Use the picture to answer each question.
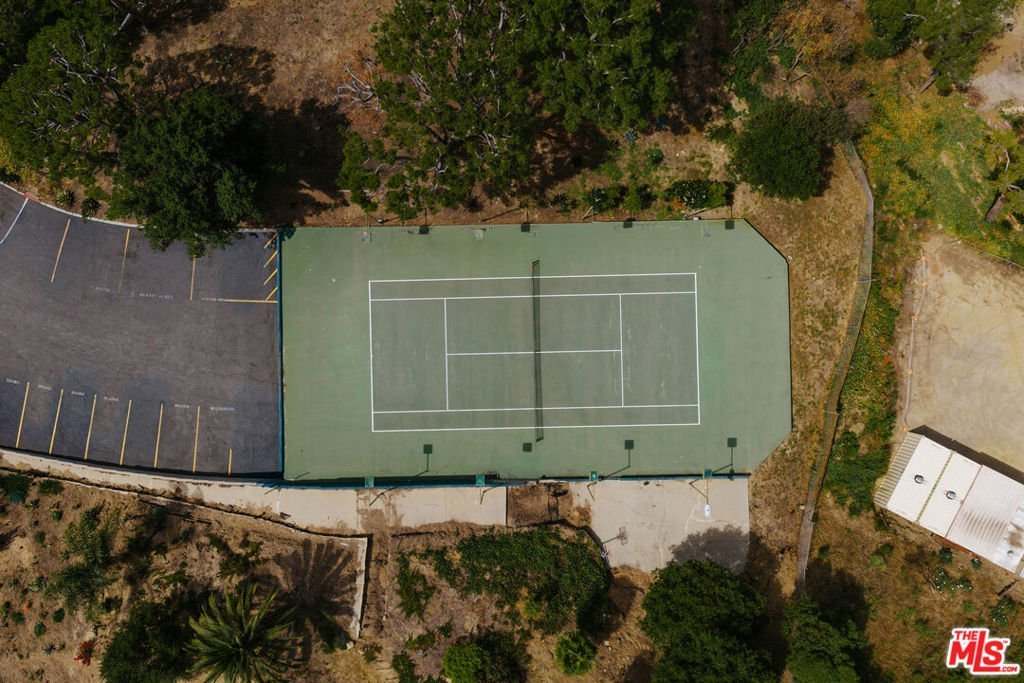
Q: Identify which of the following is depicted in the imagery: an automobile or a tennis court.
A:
tennis court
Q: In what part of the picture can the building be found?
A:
bottom right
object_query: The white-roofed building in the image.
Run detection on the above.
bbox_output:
[873,433,1024,577]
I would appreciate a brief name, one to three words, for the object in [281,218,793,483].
tennis court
